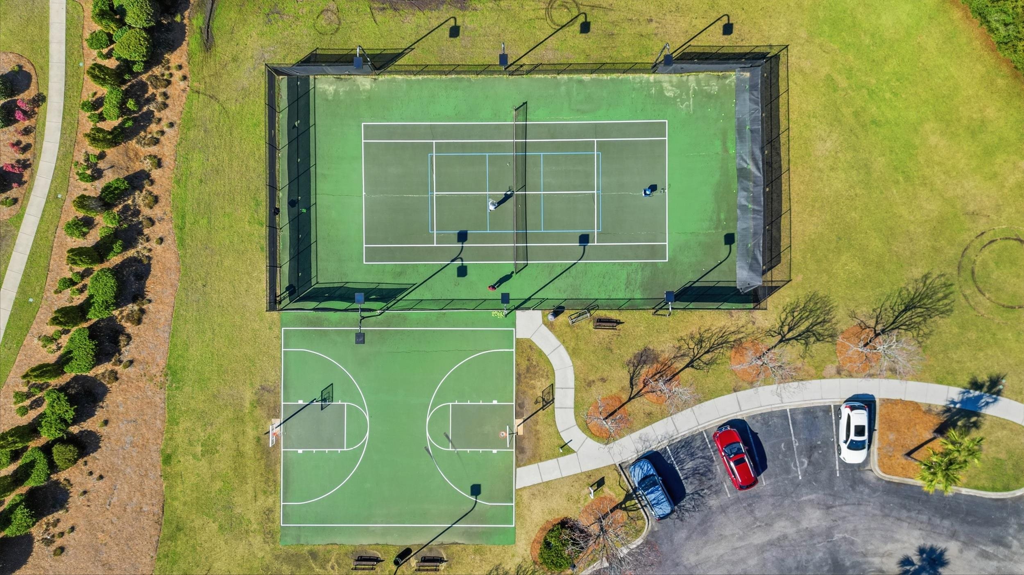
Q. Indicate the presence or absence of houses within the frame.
No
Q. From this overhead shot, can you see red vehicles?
Yes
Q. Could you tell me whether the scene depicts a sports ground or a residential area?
sports ground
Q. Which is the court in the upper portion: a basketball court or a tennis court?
tennis court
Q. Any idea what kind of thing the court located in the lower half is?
basketball court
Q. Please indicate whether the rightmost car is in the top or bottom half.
bottom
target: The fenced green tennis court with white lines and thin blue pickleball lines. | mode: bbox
[281,74,753,310]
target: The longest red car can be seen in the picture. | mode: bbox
[715,426,757,491]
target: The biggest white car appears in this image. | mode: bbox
[838,402,871,462]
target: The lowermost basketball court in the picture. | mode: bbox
[281,310,515,546]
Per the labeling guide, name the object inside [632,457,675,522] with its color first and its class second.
blue car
